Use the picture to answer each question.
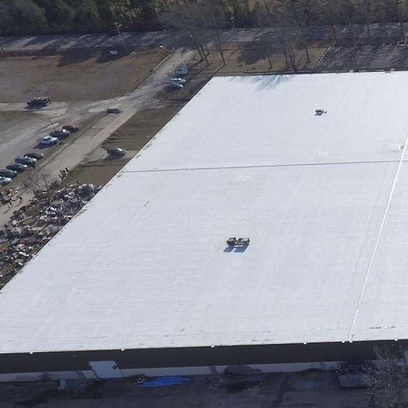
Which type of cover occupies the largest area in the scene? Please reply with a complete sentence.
The largest share of the image is taken up by buildings.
